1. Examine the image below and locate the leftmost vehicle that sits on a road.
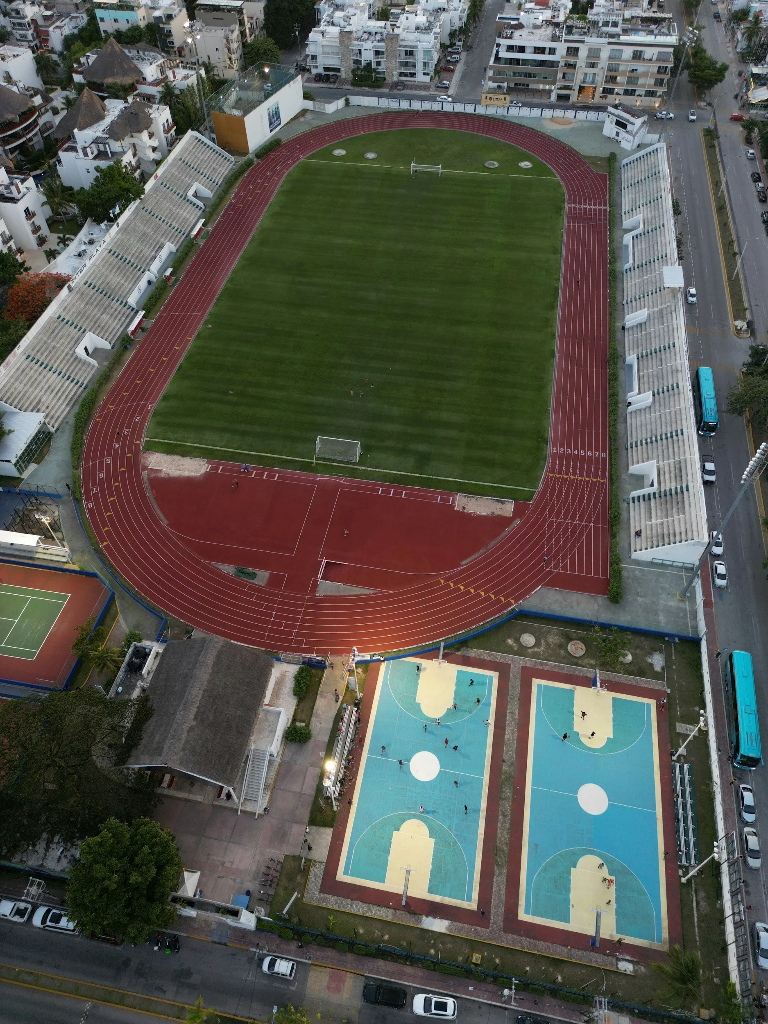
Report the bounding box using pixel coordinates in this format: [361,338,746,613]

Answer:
[0,897,41,925]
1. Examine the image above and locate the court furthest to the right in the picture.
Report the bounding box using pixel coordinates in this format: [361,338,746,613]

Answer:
[502,666,682,964]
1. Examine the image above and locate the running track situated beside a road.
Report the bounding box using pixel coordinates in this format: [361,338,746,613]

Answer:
[80,111,610,656]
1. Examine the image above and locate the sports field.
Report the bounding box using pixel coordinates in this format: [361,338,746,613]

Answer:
[143,128,566,502]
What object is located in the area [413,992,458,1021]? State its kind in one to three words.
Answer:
car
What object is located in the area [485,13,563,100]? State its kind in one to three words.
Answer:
building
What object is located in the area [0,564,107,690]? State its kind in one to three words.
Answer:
tennis court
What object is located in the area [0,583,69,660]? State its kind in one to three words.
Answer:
tennis court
